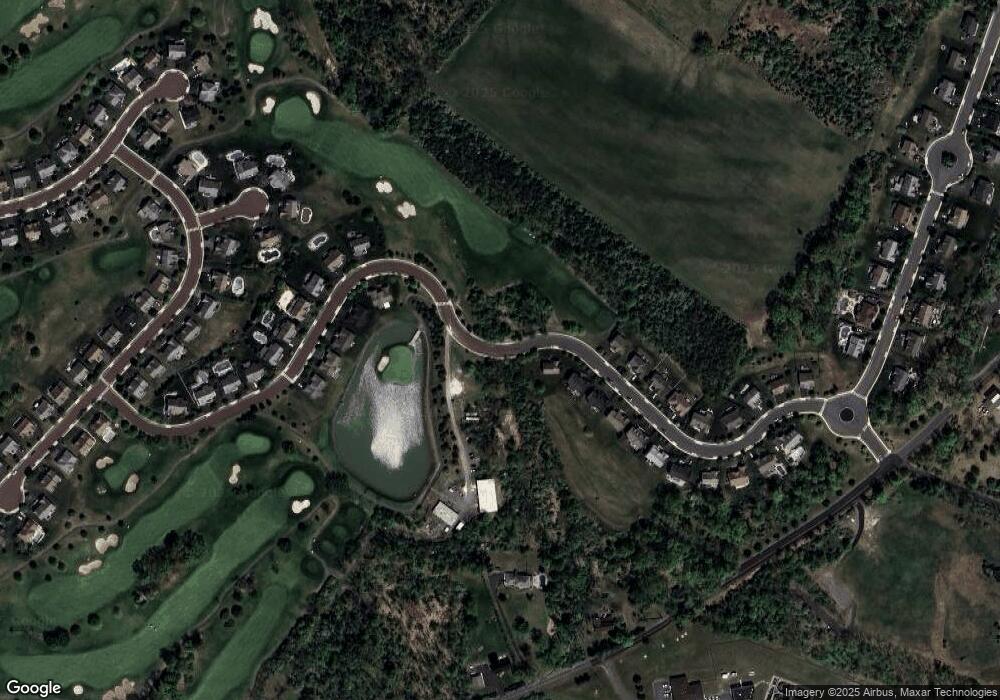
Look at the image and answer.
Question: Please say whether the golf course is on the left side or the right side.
left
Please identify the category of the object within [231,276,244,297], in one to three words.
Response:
swimming pool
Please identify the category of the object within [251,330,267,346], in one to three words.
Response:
swimming pool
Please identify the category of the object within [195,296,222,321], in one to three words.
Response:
house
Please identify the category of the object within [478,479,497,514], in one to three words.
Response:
barn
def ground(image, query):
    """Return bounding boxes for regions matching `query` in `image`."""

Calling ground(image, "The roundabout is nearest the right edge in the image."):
[926,136,973,183]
